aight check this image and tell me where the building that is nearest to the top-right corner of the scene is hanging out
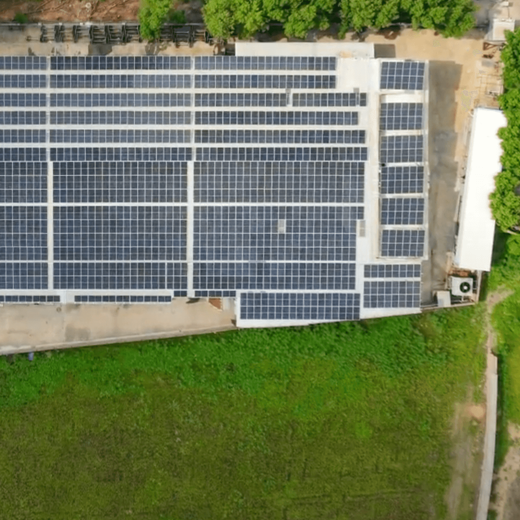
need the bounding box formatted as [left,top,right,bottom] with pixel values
[484,19,515,43]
